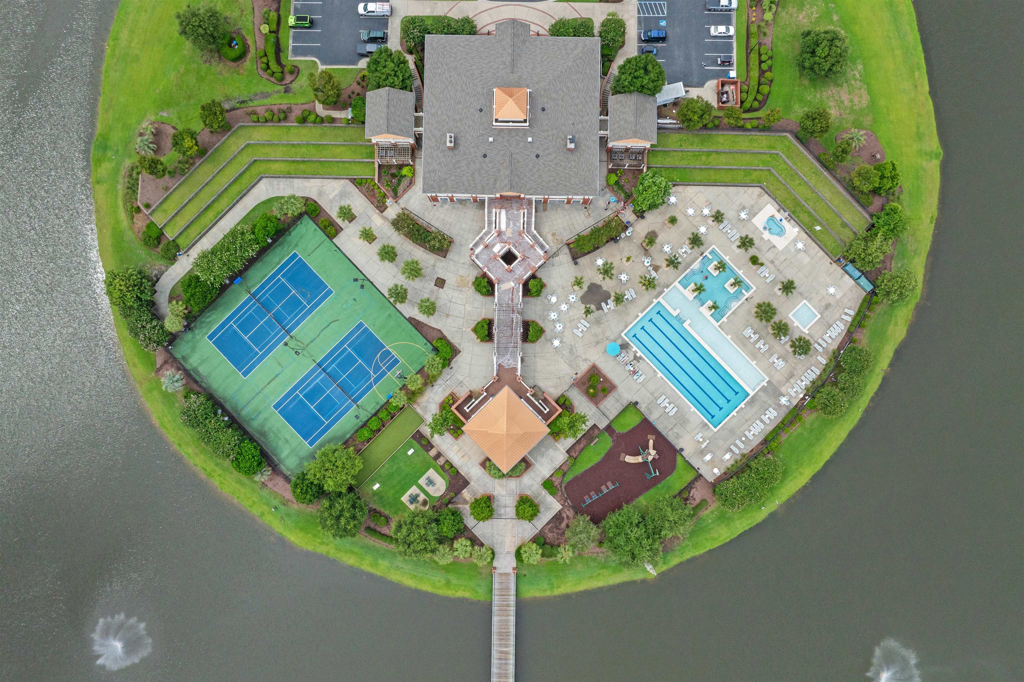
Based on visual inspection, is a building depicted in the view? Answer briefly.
Yes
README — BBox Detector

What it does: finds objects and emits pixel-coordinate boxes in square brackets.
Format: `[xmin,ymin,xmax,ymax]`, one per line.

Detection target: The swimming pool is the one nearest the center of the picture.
[622,245,769,432]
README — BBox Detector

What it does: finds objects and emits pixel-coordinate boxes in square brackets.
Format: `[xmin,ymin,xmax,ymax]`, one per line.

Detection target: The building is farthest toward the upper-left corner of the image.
[365,88,417,148]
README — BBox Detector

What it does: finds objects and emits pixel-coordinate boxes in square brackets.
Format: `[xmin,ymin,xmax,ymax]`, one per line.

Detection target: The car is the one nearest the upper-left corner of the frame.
[288,14,314,29]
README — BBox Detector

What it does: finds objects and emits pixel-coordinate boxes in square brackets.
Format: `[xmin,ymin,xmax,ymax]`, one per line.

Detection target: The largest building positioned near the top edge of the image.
[422,20,601,205]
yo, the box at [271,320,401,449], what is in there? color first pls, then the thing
blue tennis court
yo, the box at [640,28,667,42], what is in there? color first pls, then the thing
blue car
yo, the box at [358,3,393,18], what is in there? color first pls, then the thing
white vehicle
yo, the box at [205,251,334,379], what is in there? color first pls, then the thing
blue tennis court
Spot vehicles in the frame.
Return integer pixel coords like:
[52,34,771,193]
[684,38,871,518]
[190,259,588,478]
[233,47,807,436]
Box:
[718,54,734,65]
[705,0,738,13]
[360,29,388,44]
[358,3,393,18]
[288,14,314,29]
[640,28,667,42]
[642,44,657,54]
[709,24,735,37]
[357,43,388,56]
